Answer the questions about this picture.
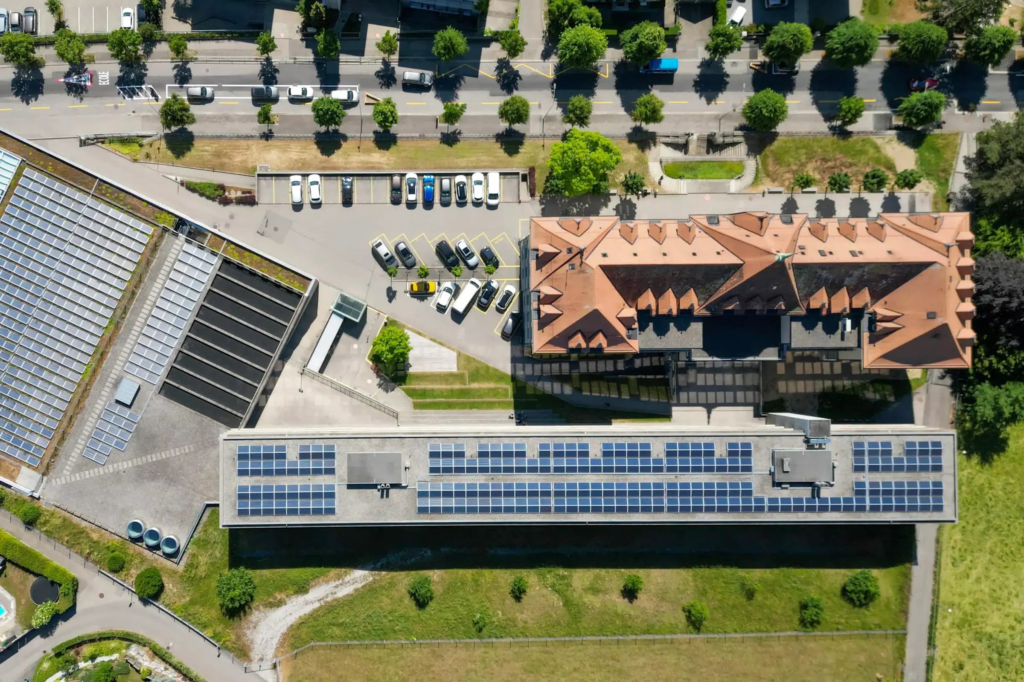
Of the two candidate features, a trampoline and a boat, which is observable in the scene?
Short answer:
trampoline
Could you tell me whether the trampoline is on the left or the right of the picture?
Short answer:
left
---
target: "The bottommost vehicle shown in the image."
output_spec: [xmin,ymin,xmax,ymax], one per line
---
[501,311,522,341]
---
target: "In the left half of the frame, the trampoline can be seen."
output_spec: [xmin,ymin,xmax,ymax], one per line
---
[30,577,60,606]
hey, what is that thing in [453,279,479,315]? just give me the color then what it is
white vehicle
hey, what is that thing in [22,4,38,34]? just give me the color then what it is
gray car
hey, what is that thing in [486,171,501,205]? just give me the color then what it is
white vehicle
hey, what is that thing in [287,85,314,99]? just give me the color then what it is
white car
